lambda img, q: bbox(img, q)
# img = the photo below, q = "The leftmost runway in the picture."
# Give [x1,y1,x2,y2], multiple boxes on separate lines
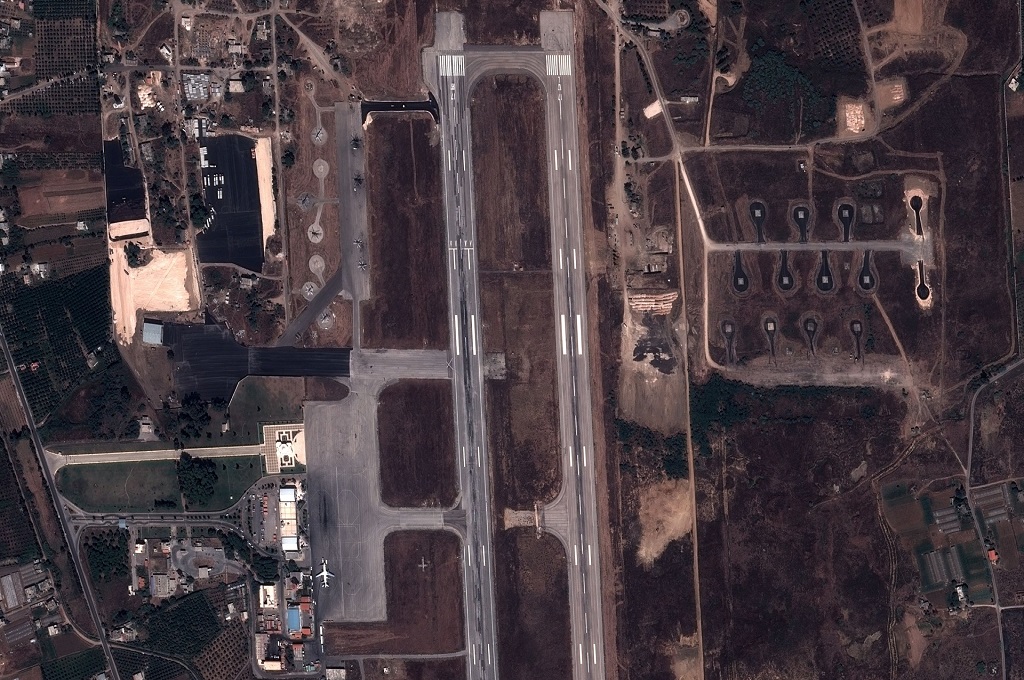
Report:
[435,50,498,680]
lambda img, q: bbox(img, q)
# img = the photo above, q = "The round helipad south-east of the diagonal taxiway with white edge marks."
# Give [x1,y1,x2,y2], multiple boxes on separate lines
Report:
[316,309,335,329]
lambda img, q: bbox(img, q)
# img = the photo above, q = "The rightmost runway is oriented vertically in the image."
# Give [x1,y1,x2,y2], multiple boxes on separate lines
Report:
[542,50,604,680]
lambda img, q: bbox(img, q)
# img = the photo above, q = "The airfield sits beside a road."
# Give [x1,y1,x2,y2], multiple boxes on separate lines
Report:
[278,11,604,680]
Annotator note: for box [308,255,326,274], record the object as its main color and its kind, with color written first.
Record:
gray helipad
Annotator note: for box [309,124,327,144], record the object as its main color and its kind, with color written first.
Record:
gray helipad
